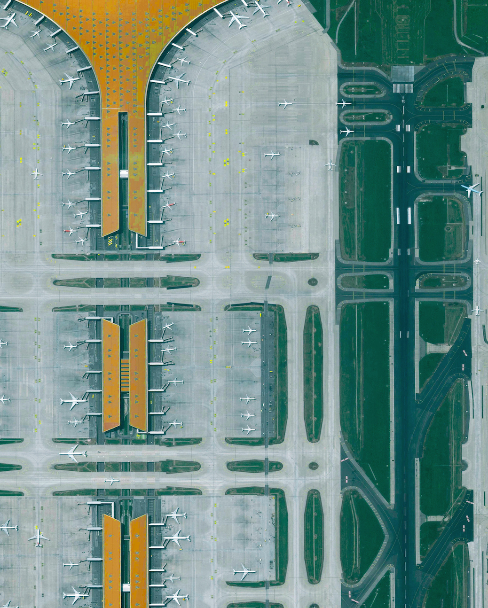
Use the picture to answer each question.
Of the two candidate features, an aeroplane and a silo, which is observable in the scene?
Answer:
aeroplane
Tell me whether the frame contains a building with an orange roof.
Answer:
Yes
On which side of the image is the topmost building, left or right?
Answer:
left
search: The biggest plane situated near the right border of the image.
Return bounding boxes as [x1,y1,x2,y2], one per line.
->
[462,182,483,198]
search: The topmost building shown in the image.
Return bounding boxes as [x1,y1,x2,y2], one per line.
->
[17,0,226,237]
